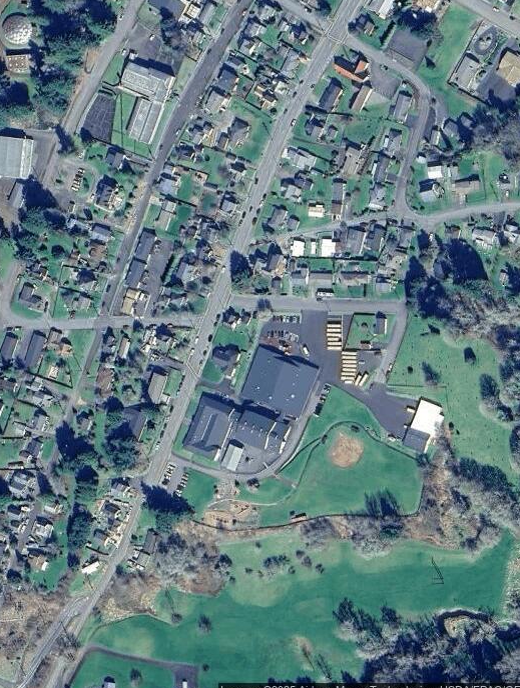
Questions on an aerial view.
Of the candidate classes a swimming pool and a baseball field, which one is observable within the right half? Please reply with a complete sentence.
You can see a baseball field within the right half.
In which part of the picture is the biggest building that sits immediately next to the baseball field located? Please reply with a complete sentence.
The biggest building that sits immediately next to the baseball field is located in the center region of the scene.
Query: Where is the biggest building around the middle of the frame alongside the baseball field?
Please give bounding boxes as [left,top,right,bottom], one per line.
[184,344,323,460]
